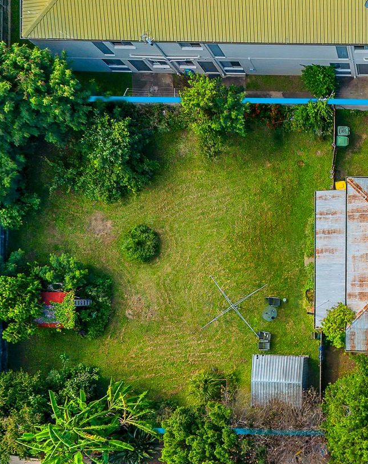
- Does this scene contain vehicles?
No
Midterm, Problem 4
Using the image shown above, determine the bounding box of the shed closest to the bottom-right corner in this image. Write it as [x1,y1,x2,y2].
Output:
[250,354,306,409]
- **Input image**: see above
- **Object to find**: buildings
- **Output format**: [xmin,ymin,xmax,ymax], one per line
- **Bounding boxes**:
[250,354,306,409]
[312,174,368,354]
[18,0,368,78]
[27,291,93,327]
